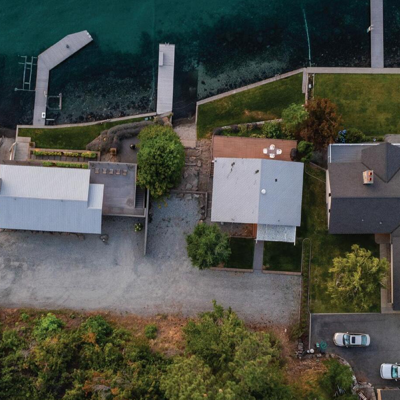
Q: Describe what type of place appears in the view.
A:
residential area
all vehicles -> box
[332,331,370,348]
[380,363,400,381]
